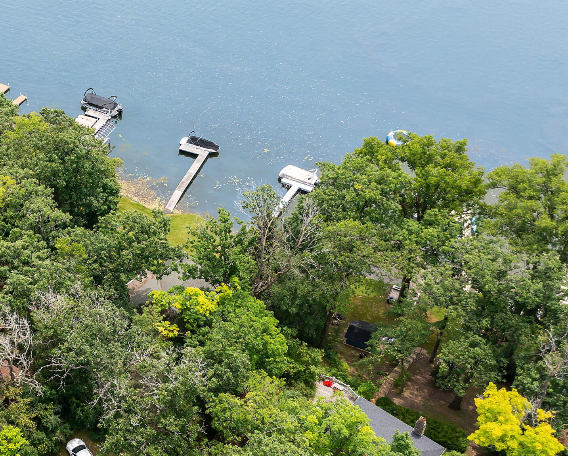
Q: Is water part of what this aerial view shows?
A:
Yes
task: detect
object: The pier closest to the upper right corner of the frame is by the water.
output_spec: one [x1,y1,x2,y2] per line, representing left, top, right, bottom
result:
[264,179,314,220]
